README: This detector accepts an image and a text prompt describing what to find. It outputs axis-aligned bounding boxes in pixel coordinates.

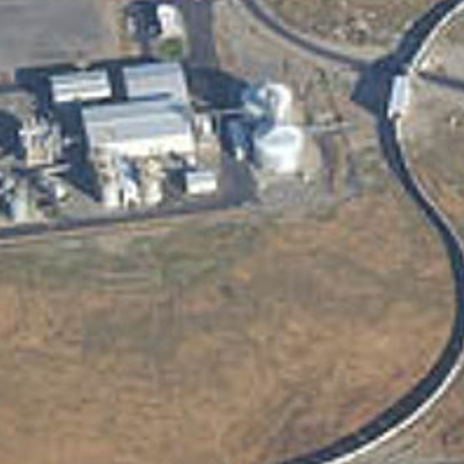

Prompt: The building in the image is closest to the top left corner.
[52,70,109,101]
